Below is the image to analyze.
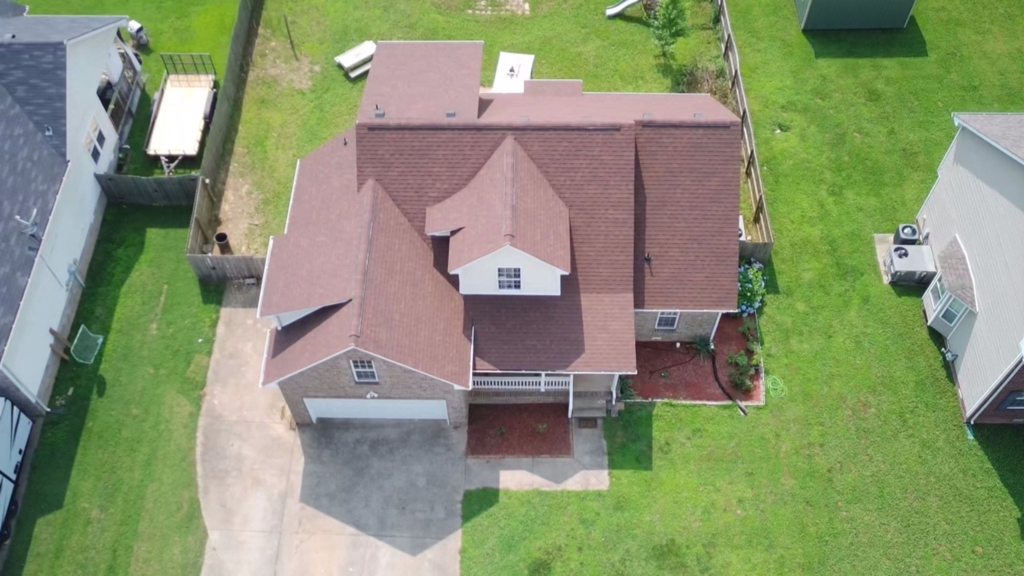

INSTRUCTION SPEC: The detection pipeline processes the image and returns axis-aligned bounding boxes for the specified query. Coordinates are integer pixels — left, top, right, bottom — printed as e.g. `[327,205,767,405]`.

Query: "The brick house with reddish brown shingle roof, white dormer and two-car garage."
[255,39,741,426]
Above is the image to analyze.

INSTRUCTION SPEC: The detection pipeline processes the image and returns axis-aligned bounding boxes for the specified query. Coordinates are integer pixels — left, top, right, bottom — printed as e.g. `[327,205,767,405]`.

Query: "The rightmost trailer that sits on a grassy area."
[143,56,218,176]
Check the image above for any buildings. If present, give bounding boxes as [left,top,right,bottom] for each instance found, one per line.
[795,0,920,29]
[0,0,140,414]
[255,39,741,426]
[914,112,1024,428]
